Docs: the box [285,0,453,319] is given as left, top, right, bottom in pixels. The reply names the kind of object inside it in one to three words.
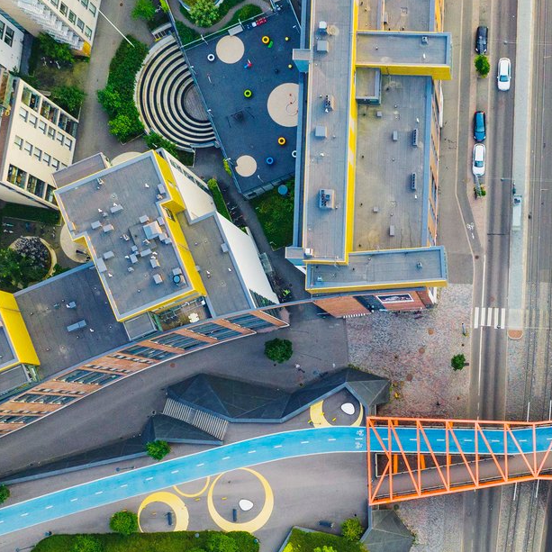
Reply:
building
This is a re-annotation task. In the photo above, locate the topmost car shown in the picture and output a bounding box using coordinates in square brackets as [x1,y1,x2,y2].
[474,24,490,59]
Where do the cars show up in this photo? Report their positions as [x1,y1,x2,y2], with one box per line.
[474,24,490,59]
[471,109,487,143]
[470,142,487,178]
[496,56,513,92]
